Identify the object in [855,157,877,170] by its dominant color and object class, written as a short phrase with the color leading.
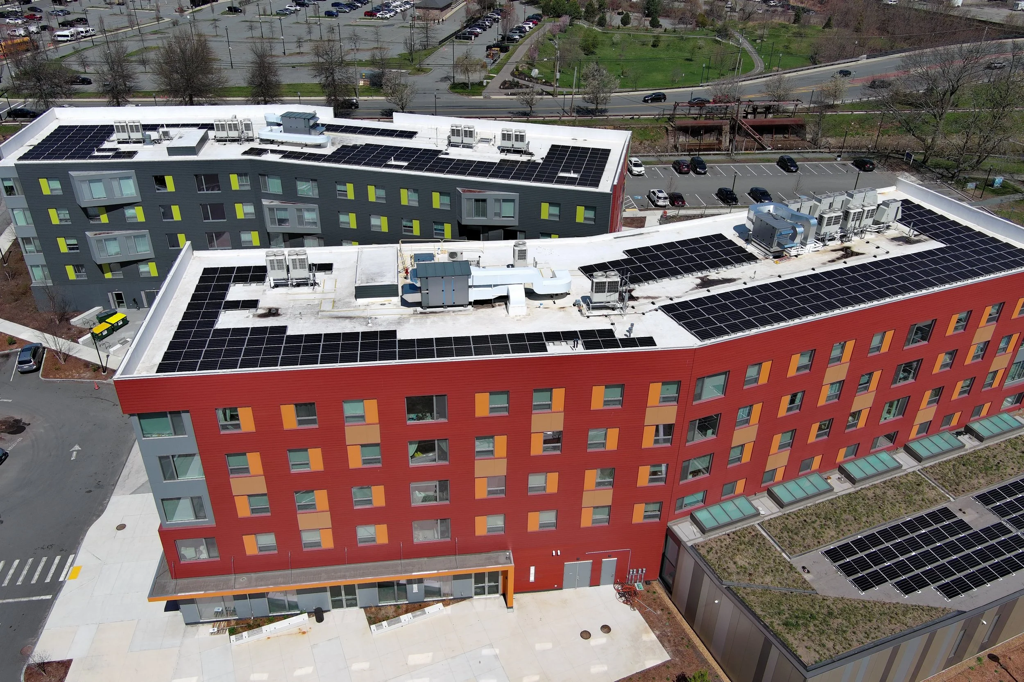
black vehicle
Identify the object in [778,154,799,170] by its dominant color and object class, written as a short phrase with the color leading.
black car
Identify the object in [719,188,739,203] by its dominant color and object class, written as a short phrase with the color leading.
black car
